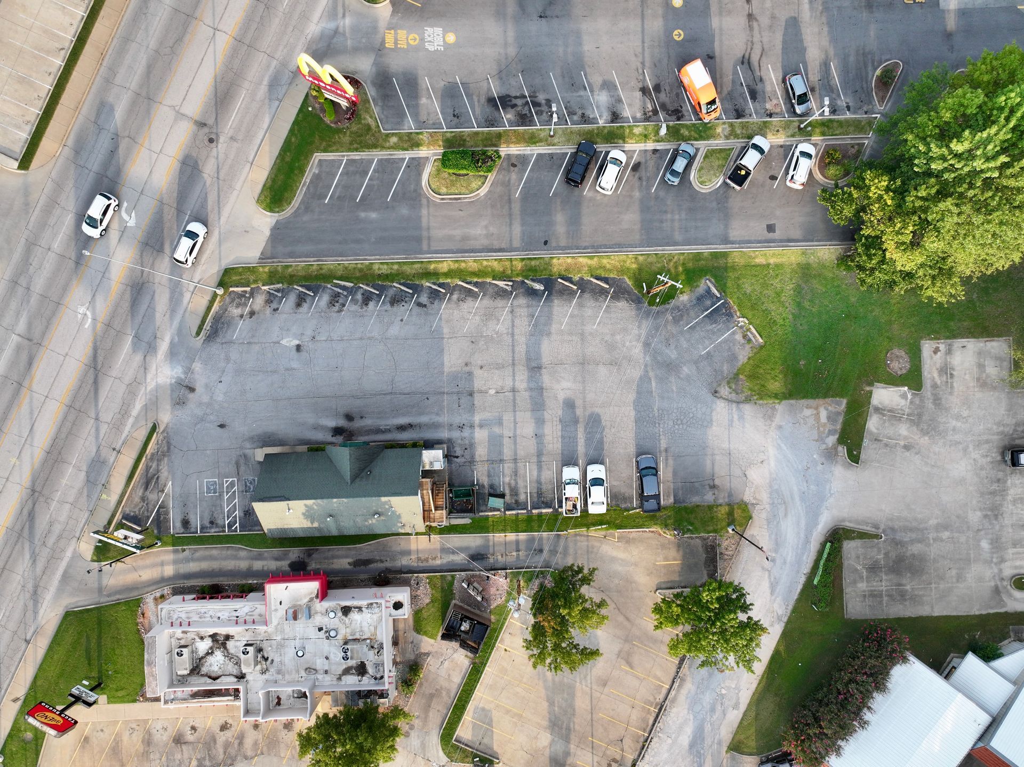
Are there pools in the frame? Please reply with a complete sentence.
No, there isn't any pool down there.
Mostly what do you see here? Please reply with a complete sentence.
For the most part, this view shows paved ground.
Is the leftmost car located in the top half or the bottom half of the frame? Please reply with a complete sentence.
The top half of the photo is where the leftmost car is.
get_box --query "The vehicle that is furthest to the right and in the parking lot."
[1003,448,1024,470]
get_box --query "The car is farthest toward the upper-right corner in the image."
[783,72,812,116]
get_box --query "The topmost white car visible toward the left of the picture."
[83,193,119,236]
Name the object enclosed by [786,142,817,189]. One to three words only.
car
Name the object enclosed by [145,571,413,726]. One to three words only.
building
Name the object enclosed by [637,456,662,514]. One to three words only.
truck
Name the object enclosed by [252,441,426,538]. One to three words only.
building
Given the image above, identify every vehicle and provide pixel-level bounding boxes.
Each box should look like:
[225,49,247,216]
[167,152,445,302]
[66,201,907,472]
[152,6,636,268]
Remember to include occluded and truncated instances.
[637,456,662,514]
[565,140,595,188]
[725,133,770,193]
[786,142,817,189]
[561,466,583,516]
[597,150,626,194]
[677,56,718,122]
[783,72,812,116]
[586,465,608,513]
[664,142,695,186]
[174,225,206,266]
[83,193,119,236]
[1003,448,1024,470]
